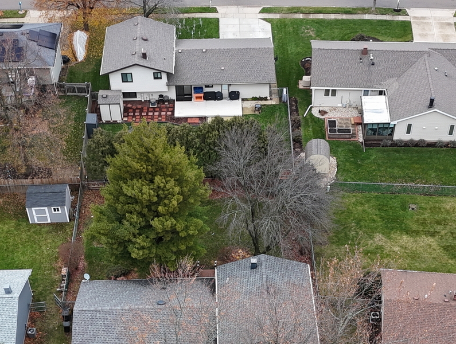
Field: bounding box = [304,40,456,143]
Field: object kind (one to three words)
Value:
house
